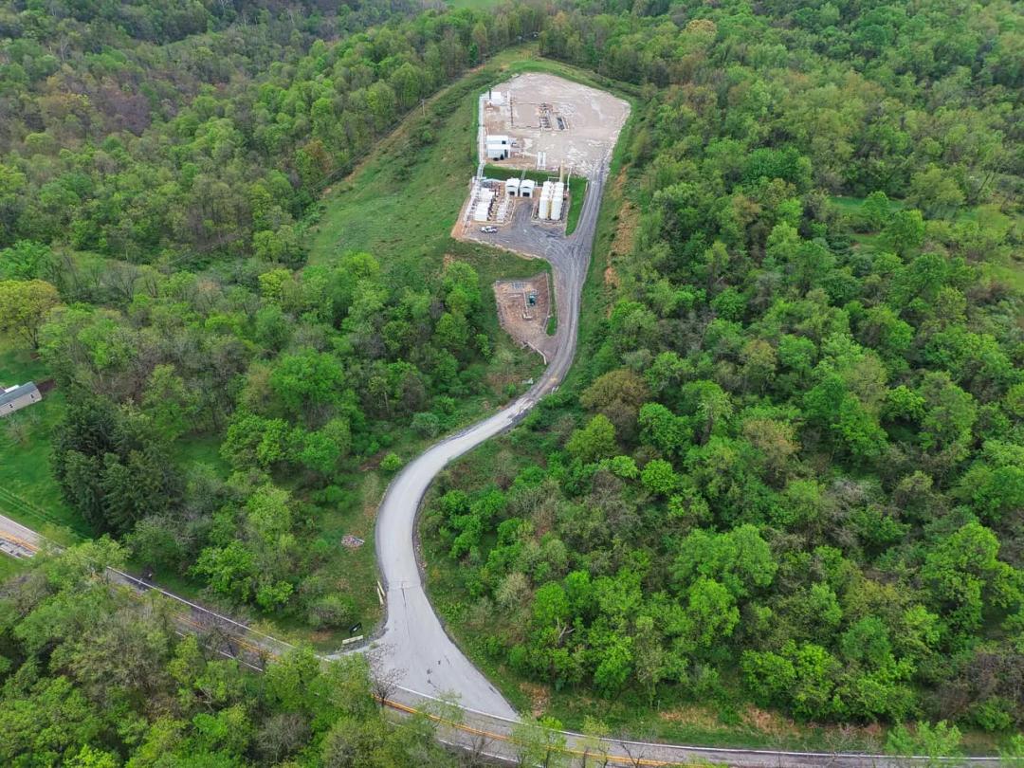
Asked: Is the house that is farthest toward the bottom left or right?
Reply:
left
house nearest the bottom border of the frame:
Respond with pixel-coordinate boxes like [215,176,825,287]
[0,382,42,416]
